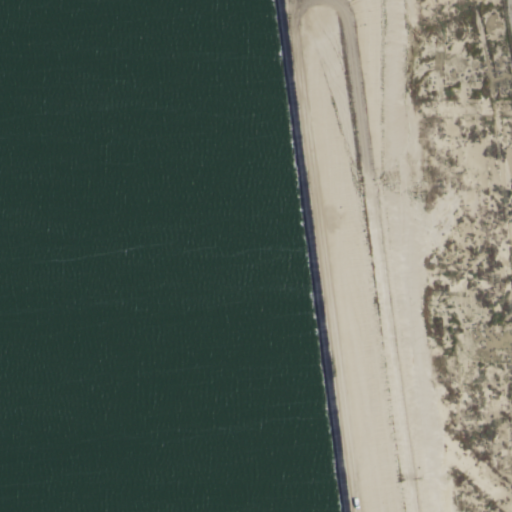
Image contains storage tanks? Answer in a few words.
No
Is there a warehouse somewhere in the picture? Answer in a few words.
No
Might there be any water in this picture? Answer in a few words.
Yes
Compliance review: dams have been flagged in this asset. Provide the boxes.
[276,0,404,512]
